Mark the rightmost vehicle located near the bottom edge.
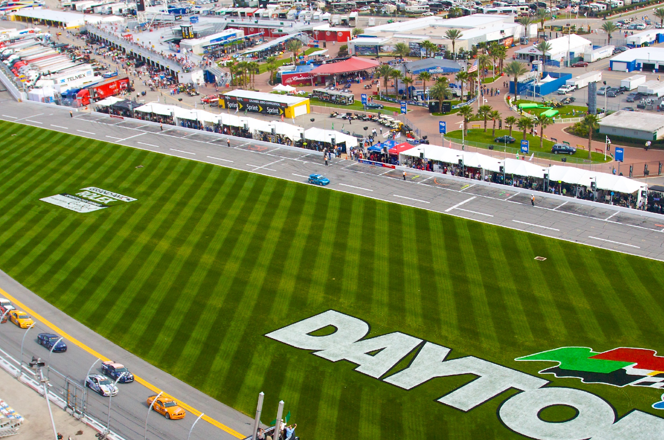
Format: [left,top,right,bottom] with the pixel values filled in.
[148,392,187,420]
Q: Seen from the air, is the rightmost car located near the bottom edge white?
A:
No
